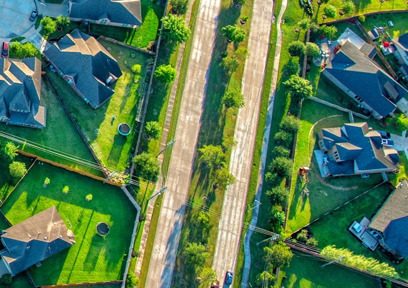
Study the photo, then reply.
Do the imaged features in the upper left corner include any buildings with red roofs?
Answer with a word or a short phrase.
No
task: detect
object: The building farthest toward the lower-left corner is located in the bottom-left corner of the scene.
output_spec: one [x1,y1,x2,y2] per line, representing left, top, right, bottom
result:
[3,221,75,273]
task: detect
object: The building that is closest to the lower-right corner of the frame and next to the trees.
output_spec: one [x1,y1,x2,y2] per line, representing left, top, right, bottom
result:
[363,184,408,261]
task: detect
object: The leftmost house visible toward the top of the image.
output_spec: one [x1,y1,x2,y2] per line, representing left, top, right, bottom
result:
[0,57,47,125]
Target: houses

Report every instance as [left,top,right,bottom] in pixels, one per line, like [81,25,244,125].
[363,184,408,261]
[328,126,399,177]
[324,41,408,124]
[47,31,128,112]
[3,221,75,273]
[0,57,47,125]
[65,0,142,29]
